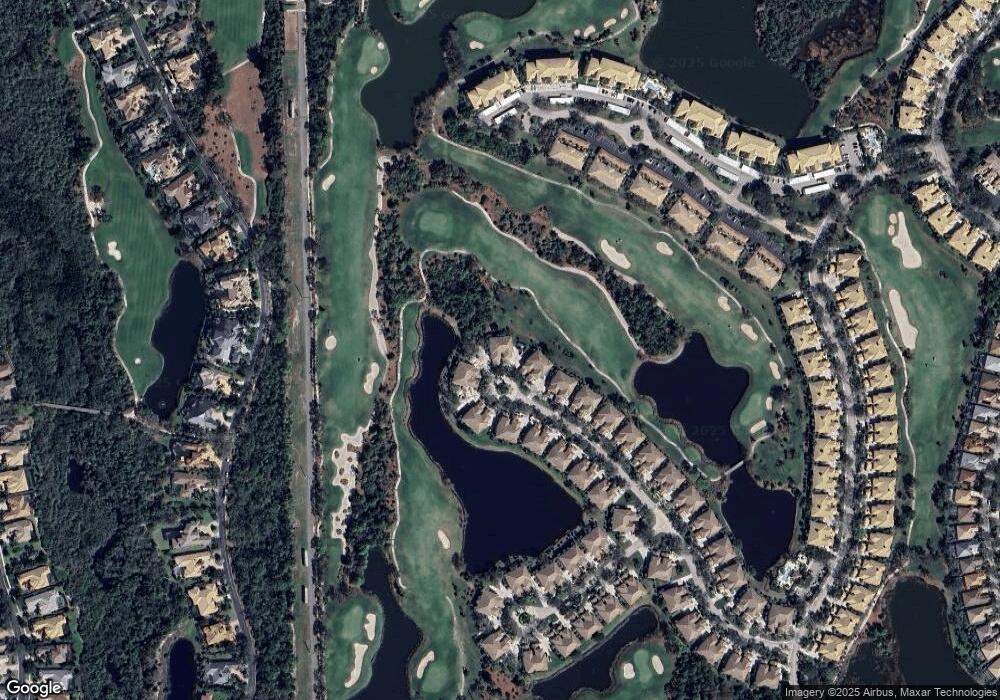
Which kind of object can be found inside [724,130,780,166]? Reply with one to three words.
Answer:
building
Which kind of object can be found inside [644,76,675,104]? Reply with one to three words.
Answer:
swimming pool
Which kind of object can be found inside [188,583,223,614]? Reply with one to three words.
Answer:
house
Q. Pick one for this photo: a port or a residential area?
residential area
